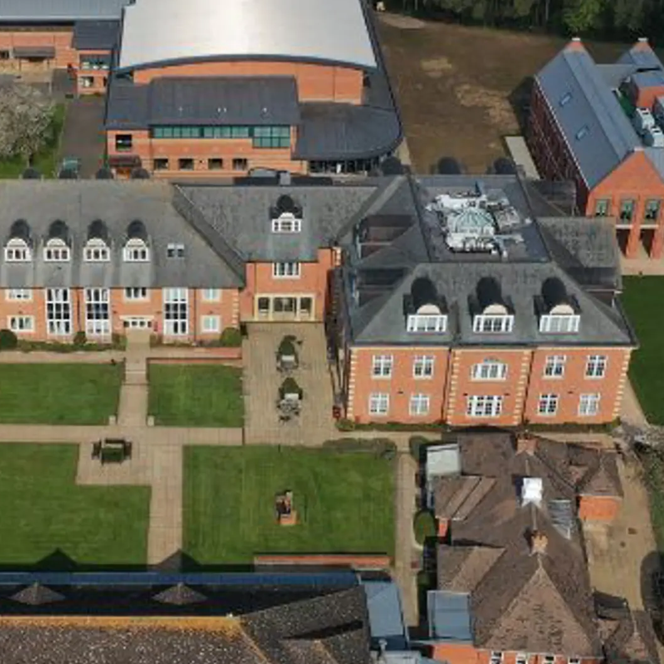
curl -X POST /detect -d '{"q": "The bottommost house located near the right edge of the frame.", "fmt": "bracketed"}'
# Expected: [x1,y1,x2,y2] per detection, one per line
[414,426,663,664]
